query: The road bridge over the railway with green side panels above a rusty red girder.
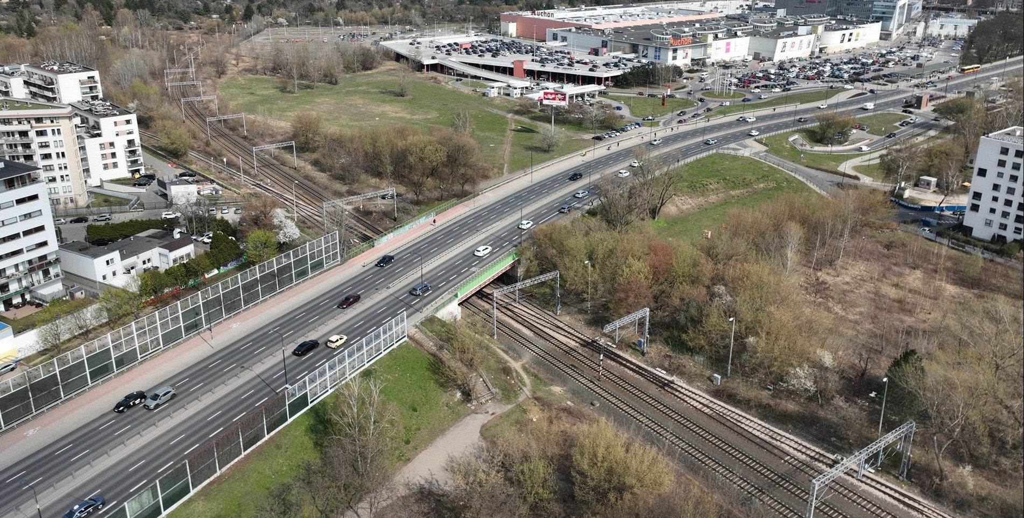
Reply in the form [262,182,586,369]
[381,206,525,315]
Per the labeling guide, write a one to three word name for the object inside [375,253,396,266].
vehicle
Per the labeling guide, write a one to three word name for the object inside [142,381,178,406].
car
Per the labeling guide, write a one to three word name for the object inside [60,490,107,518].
car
